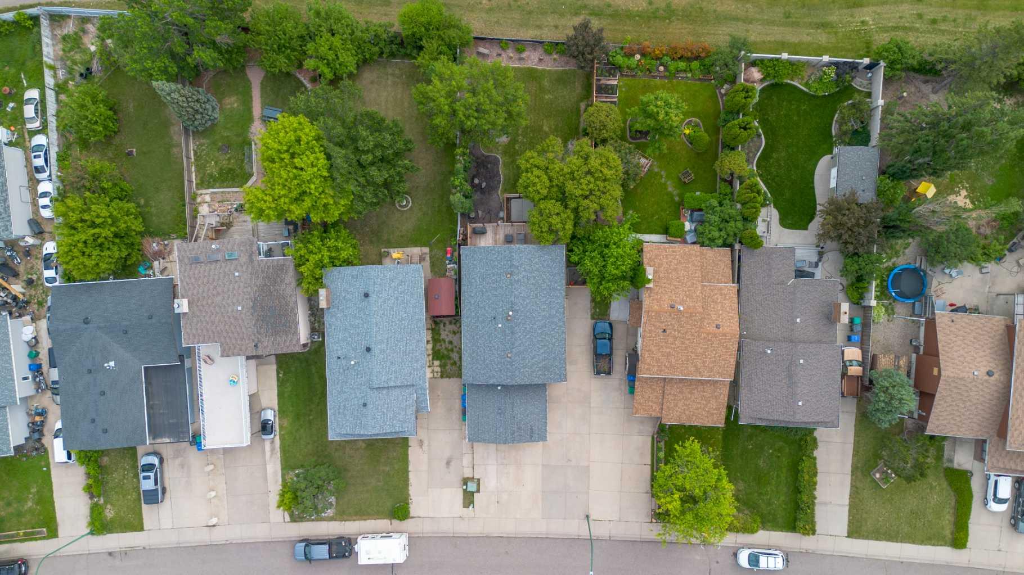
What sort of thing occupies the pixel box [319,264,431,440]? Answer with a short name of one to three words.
house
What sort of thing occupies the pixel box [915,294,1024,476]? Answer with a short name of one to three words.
house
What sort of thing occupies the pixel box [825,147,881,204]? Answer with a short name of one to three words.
shed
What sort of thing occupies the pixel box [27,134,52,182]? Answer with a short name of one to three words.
car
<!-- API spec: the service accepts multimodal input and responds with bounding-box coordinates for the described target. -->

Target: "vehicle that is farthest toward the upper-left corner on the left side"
[19,88,46,132]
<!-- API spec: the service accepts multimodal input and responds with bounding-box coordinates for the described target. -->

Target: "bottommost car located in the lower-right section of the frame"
[735,546,786,572]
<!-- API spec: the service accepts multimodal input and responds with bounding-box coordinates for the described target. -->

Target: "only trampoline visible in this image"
[887,264,931,302]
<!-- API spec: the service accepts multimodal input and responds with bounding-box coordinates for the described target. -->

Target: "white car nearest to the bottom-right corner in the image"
[985,474,1013,512]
